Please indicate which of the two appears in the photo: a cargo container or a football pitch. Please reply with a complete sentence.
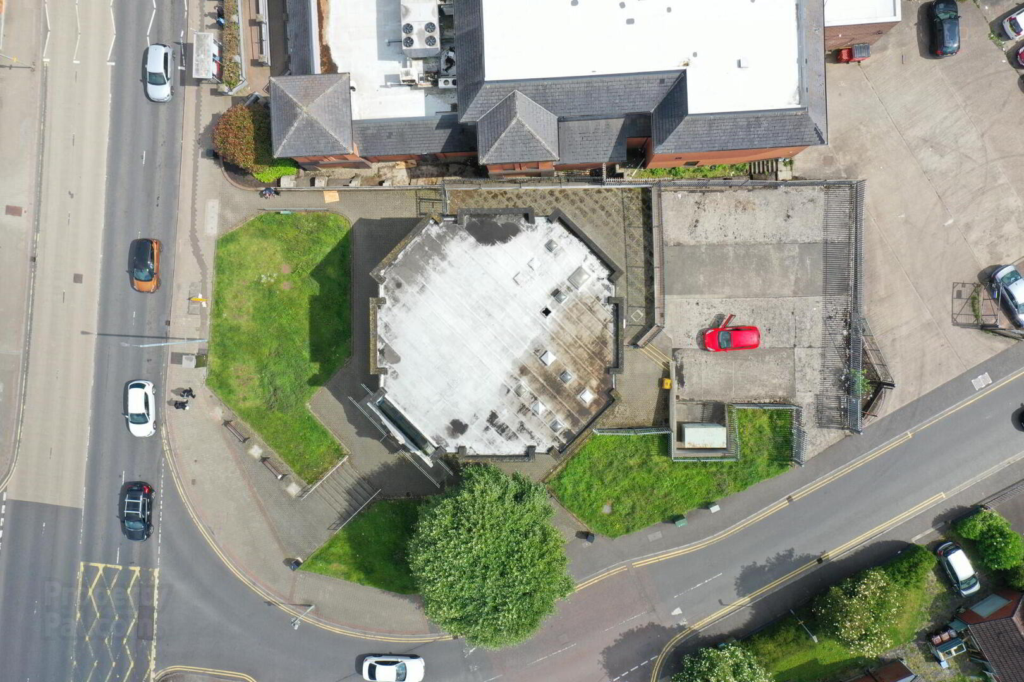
It is a cargo container that can be seen here.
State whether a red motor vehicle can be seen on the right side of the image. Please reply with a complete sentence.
Yes, a red motor vehicle shows up on the right side of the image.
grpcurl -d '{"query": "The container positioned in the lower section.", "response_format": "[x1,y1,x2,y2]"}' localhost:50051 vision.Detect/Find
[679,423,727,448]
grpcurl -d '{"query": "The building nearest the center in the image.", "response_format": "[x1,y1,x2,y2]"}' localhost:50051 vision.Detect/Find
[366,209,623,468]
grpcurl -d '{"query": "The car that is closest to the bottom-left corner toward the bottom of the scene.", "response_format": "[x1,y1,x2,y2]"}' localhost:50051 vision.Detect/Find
[119,481,155,541]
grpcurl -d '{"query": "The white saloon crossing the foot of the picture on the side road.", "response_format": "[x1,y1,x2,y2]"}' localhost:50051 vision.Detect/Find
[362,650,425,682]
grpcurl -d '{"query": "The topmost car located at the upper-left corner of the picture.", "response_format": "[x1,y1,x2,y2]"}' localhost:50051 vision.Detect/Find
[143,44,177,104]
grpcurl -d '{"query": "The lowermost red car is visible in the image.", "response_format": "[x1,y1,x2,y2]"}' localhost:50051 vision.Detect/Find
[702,313,759,352]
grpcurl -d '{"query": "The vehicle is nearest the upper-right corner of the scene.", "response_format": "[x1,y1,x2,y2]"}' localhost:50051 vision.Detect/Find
[995,4,1024,39]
